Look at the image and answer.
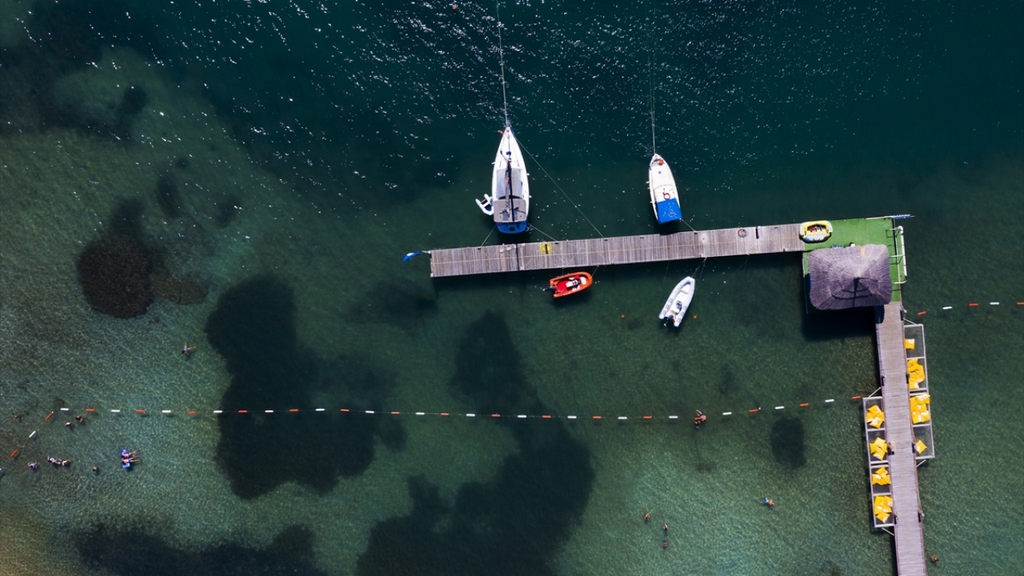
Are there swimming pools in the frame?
No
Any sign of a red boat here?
Yes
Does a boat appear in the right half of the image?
Yes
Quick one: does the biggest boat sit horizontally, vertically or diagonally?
vertically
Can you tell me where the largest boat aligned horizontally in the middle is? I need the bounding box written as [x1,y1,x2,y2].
[542,272,594,297]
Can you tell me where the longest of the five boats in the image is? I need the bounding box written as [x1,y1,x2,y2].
[490,124,531,234]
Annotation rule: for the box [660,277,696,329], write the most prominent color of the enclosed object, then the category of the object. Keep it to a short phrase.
white boat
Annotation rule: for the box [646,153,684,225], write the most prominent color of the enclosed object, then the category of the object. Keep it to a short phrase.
white boat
